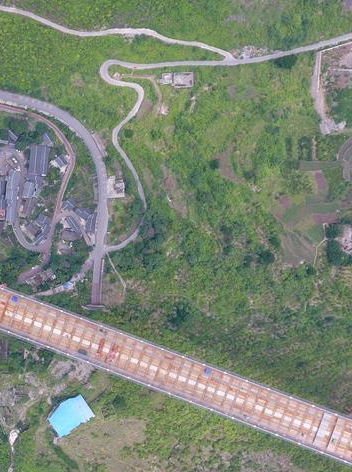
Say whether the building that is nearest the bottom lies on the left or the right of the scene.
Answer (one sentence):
The building that is nearest the bottom sits on the left side.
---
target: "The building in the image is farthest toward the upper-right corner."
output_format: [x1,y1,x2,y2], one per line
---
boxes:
[169,69,194,96]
